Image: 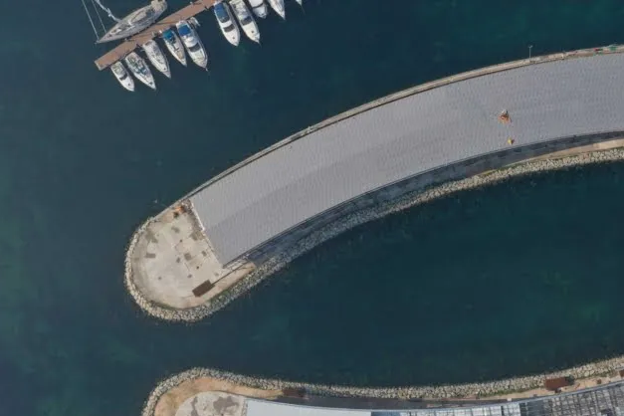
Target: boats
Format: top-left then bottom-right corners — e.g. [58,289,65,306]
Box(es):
[143,36,173,78]
[265,0,286,21]
[159,27,188,67]
[245,0,267,20]
[78,0,172,44]
[175,20,210,70]
[228,0,261,45]
[112,58,136,91]
[209,2,240,47]
[125,48,157,90]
